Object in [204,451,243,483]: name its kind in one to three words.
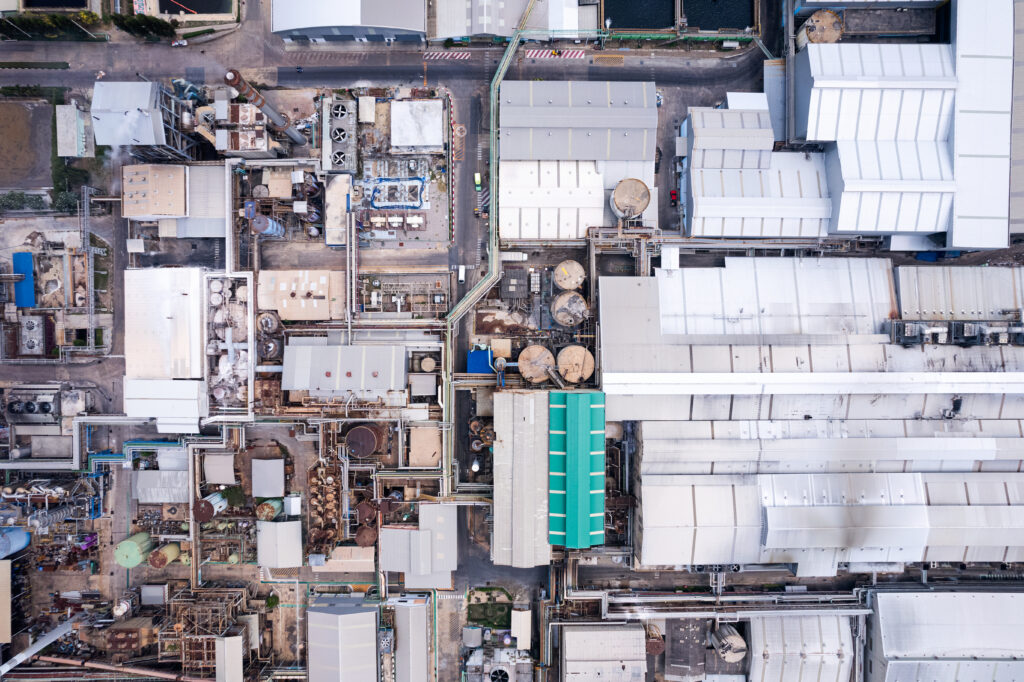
building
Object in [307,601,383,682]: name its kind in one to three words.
building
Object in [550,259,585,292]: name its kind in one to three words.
storage tank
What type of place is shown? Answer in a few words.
industrial area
